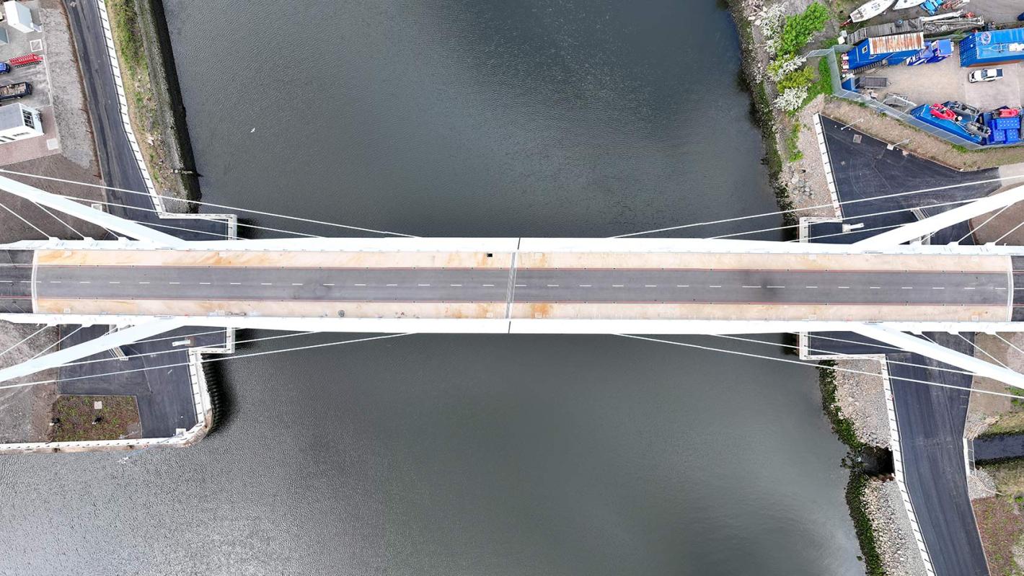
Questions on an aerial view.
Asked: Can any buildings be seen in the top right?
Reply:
No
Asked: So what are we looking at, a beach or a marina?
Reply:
marina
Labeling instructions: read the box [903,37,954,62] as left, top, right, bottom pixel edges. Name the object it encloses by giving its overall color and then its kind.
blue truck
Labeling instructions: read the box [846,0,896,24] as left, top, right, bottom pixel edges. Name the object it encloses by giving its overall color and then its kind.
white boat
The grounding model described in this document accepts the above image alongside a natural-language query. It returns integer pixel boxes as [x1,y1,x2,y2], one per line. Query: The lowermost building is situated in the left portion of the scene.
[0,104,43,143]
